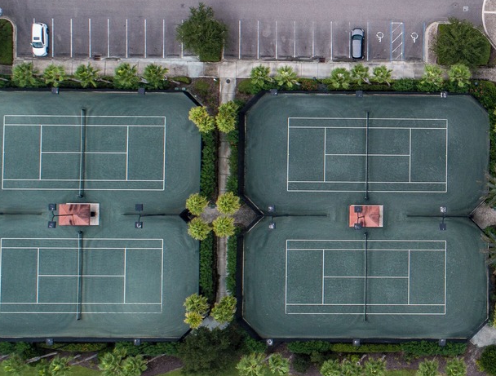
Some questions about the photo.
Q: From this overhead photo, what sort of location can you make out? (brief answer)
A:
sports ground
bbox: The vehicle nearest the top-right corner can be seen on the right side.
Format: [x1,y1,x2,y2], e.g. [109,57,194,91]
[350,29,365,59]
